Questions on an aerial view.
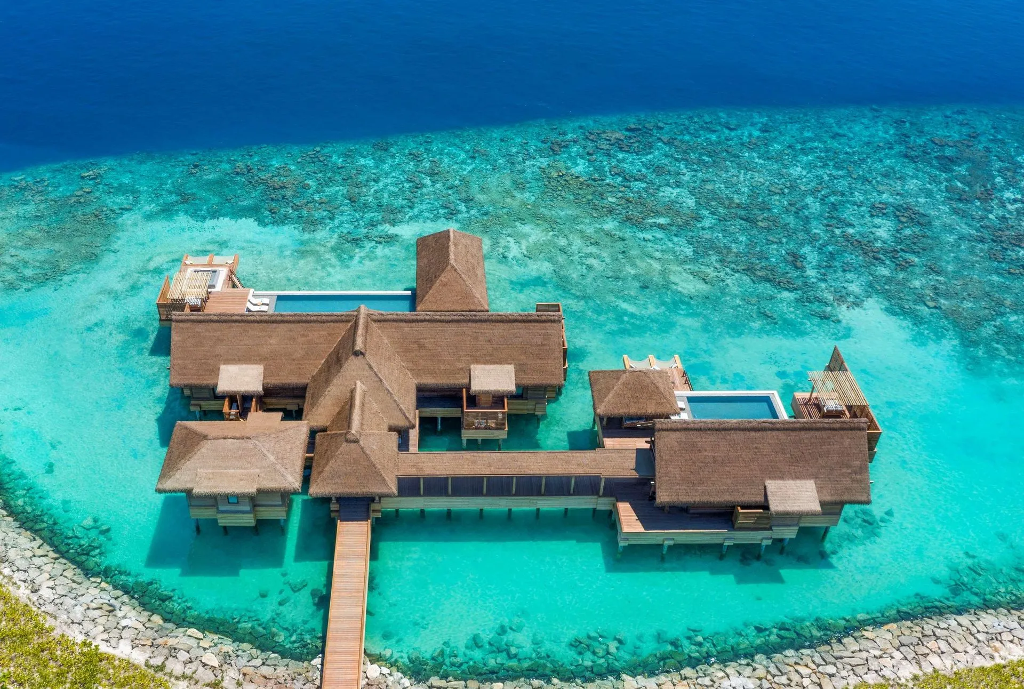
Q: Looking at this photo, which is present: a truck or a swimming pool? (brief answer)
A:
swimming pool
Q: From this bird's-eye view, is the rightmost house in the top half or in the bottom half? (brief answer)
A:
bottom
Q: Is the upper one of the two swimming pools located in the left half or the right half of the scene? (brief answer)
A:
left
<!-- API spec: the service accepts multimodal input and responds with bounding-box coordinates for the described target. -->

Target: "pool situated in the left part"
[244,291,415,316]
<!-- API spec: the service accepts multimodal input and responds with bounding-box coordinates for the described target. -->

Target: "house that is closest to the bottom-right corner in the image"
[638,418,876,563]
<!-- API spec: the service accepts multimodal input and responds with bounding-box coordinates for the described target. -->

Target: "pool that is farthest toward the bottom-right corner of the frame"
[667,391,789,421]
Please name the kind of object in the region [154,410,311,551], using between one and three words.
building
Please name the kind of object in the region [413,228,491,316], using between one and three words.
shed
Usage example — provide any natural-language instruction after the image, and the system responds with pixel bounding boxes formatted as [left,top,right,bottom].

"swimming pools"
[667,391,789,421]
[244,291,415,316]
